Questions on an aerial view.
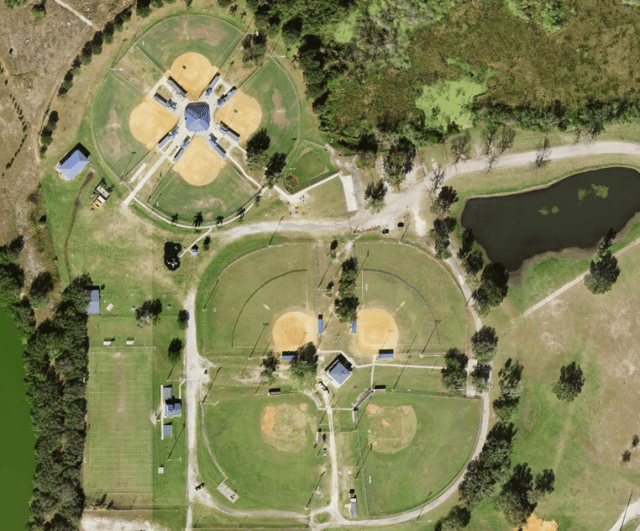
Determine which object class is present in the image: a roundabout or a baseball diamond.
baseball diamond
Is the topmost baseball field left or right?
left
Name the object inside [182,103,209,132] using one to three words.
building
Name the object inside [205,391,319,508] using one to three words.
baseball field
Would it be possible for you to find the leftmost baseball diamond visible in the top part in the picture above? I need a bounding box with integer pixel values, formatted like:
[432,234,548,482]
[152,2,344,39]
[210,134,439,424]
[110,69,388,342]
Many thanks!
[92,71,179,182]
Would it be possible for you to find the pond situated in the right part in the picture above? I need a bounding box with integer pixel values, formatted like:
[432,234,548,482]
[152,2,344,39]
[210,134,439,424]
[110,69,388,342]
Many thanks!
[460,167,640,270]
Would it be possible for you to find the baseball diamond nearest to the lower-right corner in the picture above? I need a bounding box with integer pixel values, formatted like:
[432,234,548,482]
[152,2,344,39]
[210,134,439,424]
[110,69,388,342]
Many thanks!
[356,394,480,515]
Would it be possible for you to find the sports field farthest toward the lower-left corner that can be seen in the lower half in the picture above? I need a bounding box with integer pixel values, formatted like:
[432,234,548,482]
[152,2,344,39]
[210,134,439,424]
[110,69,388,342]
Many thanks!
[85,346,157,493]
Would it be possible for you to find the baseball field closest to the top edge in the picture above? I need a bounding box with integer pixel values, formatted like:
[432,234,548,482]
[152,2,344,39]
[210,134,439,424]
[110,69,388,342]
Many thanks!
[136,16,244,103]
